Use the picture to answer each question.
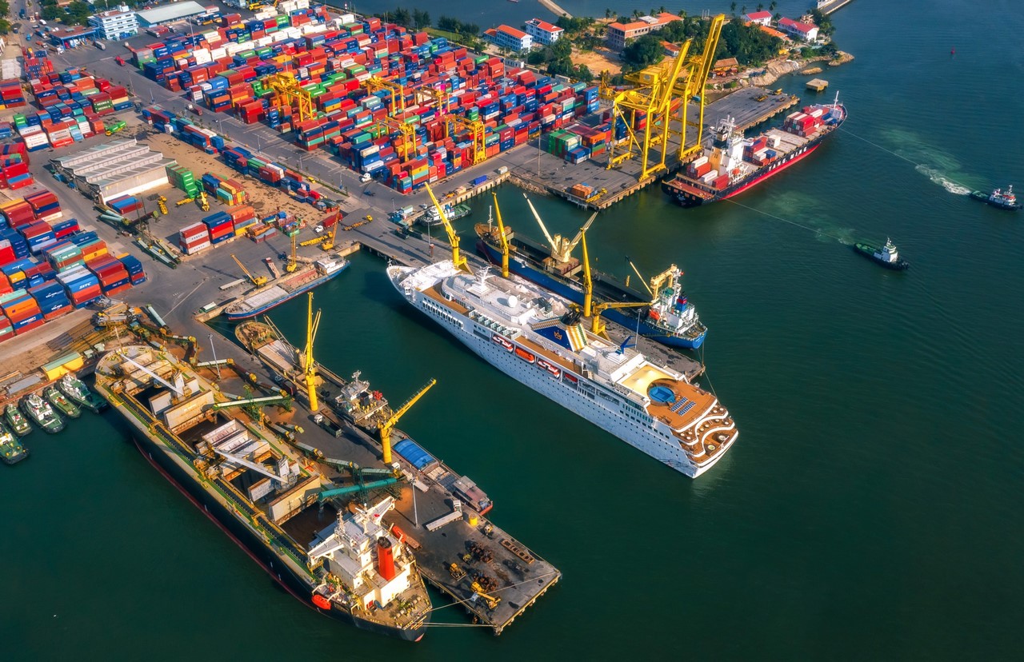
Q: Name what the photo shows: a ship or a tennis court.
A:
ship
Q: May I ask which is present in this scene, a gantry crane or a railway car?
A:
gantry crane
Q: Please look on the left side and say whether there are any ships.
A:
Yes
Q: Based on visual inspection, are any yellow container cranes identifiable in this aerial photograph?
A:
Yes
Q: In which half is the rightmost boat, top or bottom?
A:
top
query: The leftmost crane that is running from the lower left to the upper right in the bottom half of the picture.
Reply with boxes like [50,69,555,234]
[375,377,439,466]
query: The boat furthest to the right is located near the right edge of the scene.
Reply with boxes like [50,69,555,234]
[970,181,1024,209]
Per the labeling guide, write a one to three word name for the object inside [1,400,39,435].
boat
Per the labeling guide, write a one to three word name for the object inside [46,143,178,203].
building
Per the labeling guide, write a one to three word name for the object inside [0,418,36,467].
boat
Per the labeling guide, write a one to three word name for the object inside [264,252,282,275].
vehicle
